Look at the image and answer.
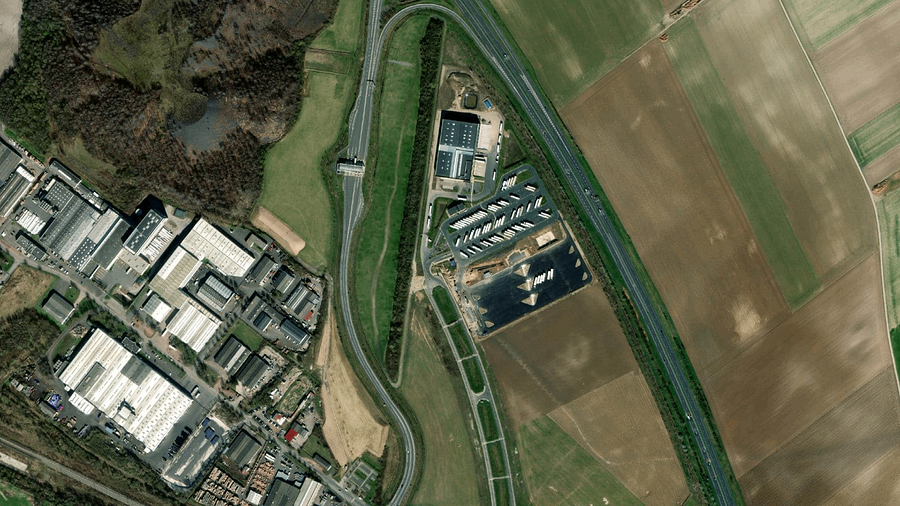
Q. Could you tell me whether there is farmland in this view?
Yes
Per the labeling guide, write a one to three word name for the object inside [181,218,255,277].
building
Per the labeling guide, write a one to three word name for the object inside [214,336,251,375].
building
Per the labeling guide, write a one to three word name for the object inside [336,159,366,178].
toll station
